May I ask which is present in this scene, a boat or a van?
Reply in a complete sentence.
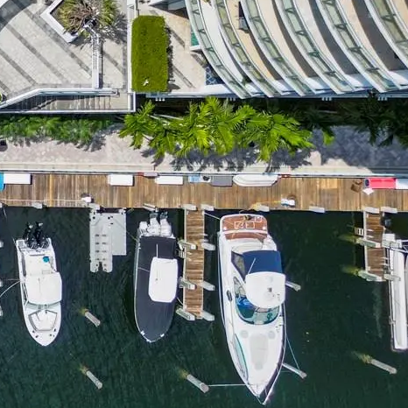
The one in the frame is a boat.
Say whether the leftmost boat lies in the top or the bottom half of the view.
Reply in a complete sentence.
It is in the bottom half that the leftmost boat appears.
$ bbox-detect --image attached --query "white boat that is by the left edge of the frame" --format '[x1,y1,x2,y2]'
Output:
[13,223,61,346]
